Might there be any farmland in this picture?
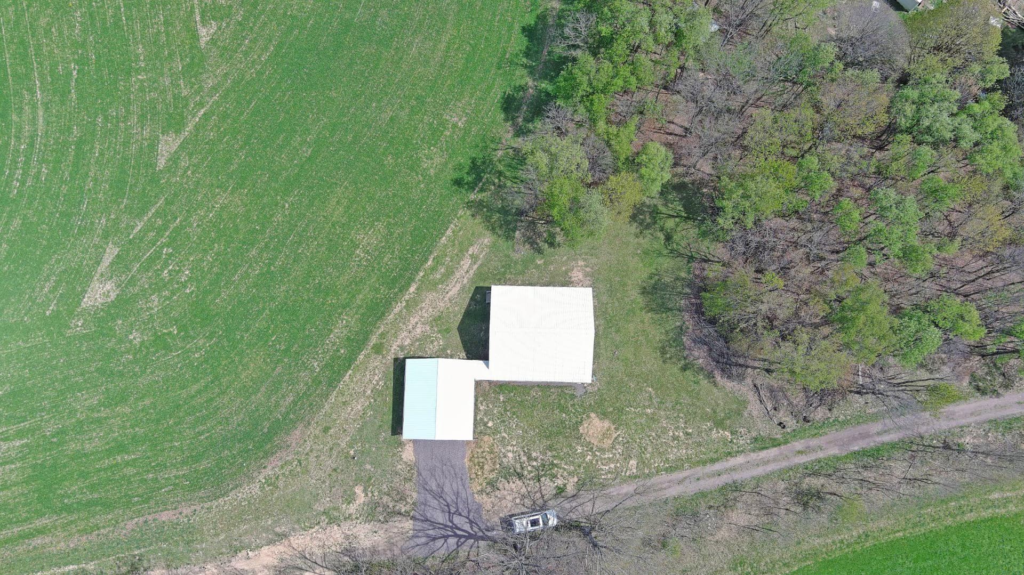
Yes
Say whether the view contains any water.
No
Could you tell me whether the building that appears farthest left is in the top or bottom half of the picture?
bottom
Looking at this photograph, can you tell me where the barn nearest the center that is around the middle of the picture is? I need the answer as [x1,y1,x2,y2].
[489,285,595,385]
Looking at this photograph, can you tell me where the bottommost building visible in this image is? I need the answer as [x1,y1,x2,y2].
[401,358,476,441]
